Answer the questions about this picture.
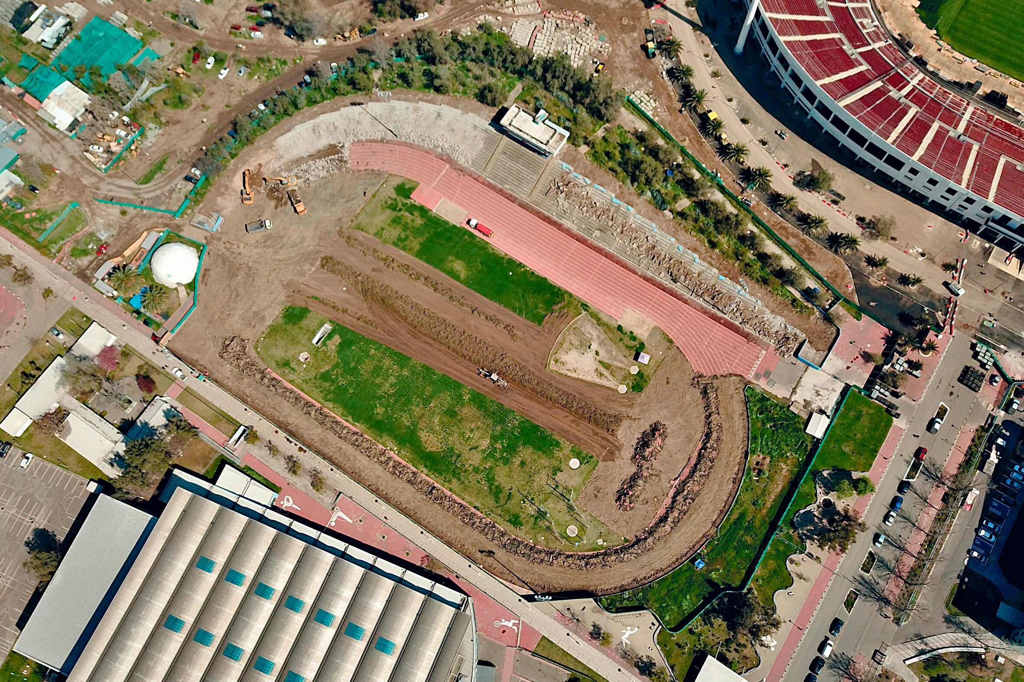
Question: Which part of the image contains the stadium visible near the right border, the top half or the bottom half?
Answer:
top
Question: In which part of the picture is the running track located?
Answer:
center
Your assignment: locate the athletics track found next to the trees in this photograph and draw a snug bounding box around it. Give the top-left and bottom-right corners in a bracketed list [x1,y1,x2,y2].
[266,137,778,553]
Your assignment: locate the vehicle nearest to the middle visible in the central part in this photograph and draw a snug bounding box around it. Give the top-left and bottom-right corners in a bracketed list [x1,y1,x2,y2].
[478,369,511,391]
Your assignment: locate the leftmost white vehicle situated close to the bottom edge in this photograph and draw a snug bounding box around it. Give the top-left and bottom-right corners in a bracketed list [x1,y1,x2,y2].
[822,639,834,659]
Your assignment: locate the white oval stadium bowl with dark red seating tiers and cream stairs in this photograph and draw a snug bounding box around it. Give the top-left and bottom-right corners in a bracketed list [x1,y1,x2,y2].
[728,0,1024,248]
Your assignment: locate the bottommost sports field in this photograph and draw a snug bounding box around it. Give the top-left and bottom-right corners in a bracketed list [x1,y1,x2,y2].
[257,174,674,552]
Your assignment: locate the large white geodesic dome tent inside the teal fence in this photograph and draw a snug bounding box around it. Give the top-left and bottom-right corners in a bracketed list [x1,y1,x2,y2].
[153,245,198,293]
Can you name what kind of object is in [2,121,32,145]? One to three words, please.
shed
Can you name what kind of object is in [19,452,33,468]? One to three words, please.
car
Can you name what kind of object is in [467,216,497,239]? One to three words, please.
truck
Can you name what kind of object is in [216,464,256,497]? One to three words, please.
building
